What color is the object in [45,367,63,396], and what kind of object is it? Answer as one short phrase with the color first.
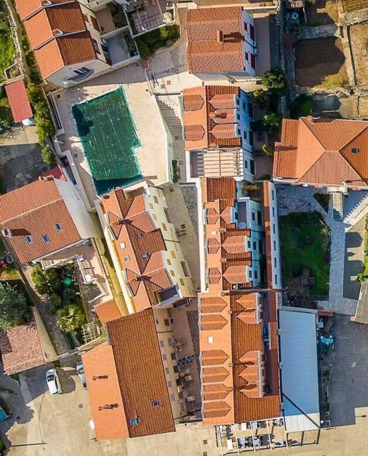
white car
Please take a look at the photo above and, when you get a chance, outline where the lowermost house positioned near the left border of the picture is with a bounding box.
[0,322,67,375]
